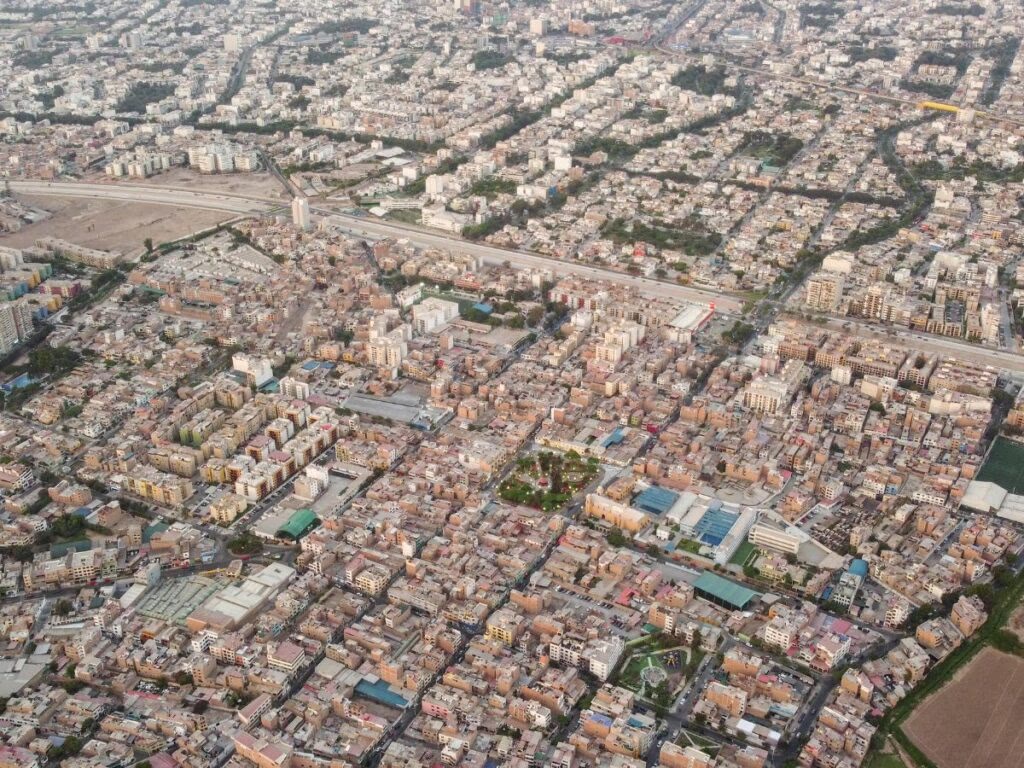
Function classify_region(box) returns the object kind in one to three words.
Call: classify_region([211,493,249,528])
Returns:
building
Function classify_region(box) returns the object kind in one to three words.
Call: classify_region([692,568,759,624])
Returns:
shed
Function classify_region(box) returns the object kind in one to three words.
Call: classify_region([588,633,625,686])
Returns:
building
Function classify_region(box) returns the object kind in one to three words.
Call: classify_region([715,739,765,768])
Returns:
house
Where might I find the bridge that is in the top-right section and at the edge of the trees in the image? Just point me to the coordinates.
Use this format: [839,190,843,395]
[650,39,1024,122]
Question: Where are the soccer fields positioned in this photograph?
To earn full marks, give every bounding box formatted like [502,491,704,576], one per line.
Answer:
[977,435,1024,497]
